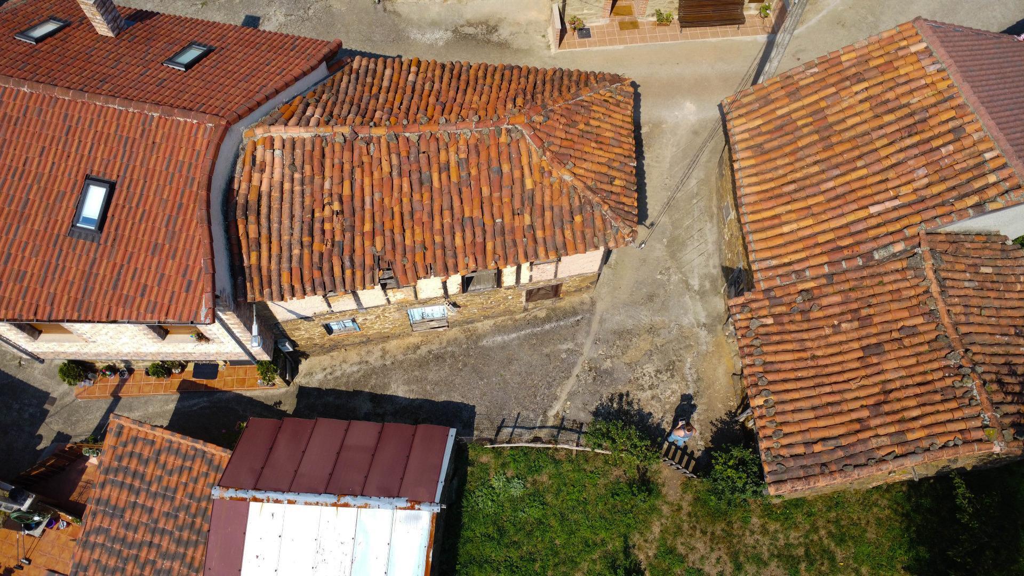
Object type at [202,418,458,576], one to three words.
shed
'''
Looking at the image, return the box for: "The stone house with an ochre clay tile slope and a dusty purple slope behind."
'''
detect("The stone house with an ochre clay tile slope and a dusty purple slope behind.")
[714,12,1024,300]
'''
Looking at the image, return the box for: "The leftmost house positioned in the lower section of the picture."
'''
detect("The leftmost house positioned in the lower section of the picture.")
[63,408,240,576]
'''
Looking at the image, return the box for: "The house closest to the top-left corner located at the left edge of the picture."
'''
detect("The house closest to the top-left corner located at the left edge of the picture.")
[0,0,344,368]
